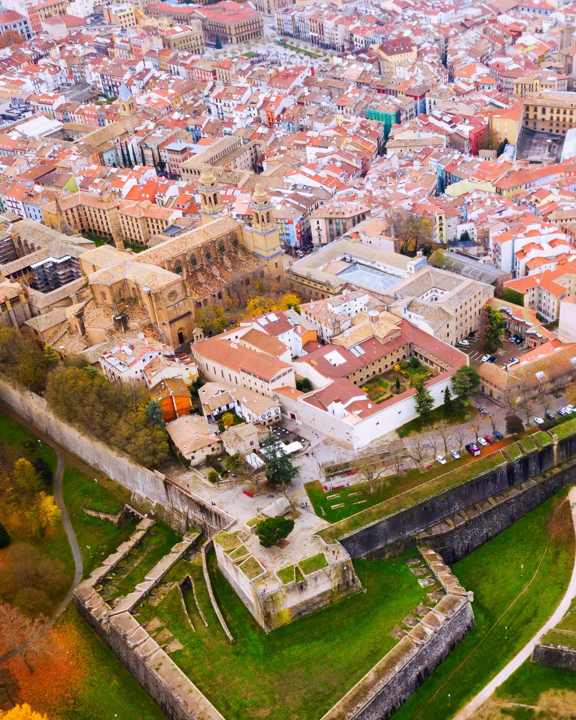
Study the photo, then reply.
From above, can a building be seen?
Yes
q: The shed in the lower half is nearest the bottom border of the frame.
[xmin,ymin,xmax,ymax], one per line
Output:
[260,498,292,519]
